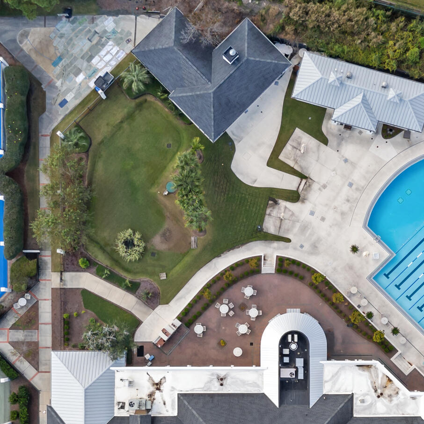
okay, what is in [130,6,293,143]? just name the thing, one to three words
building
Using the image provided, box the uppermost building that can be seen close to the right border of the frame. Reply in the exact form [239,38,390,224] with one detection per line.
[291,50,424,131]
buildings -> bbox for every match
[47,307,424,424]
[130,6,293,143]
[291,50,424,131]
